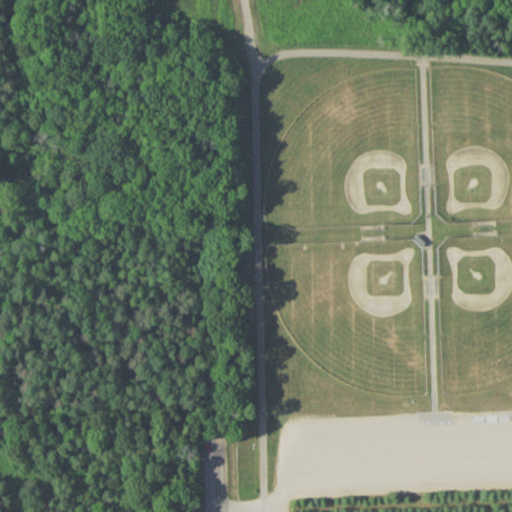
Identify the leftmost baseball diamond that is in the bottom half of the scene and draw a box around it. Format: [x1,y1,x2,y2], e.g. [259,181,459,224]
[264,240,426,397]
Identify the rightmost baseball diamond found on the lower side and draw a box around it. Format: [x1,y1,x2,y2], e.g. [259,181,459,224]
[438,234,512,396]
